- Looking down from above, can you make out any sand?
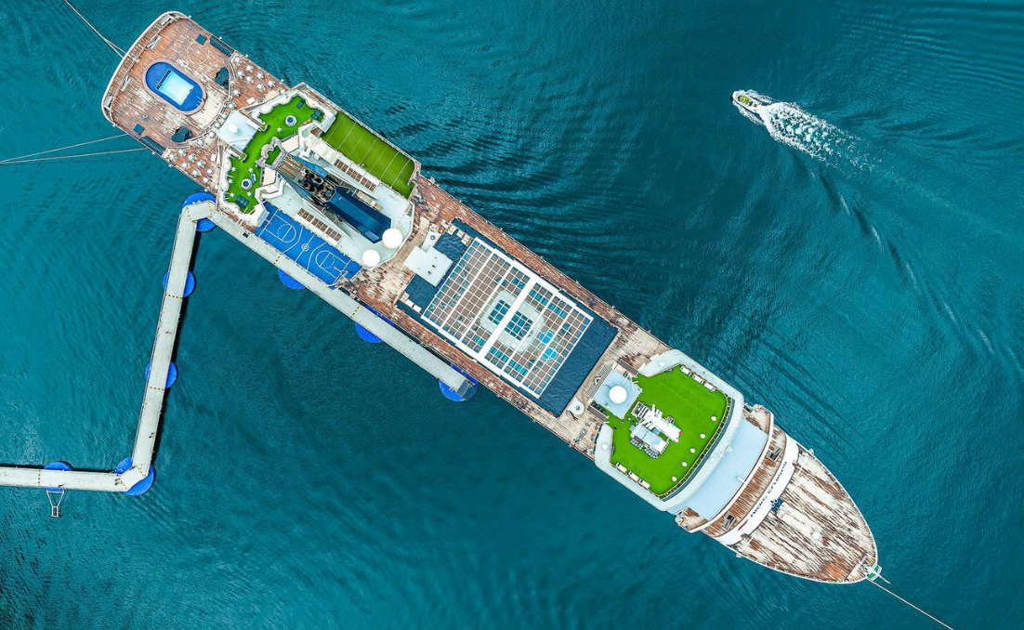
No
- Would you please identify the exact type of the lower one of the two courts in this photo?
basketball court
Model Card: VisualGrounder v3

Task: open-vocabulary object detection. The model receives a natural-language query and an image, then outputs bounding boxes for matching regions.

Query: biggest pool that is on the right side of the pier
[486,299,535,342]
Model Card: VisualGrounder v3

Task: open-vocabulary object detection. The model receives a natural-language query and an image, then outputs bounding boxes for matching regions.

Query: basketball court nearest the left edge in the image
[254,205,364,290]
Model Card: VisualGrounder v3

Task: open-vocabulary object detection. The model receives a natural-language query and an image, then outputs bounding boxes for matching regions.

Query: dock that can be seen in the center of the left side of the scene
[0,192,478,517]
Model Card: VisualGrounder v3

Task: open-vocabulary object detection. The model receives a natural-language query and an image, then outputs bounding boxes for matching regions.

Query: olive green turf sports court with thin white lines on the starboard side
[322,108,421,199]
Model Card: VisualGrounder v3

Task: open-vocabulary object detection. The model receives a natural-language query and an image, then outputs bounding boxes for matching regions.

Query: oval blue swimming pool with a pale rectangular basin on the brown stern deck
[146,60,206,113]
